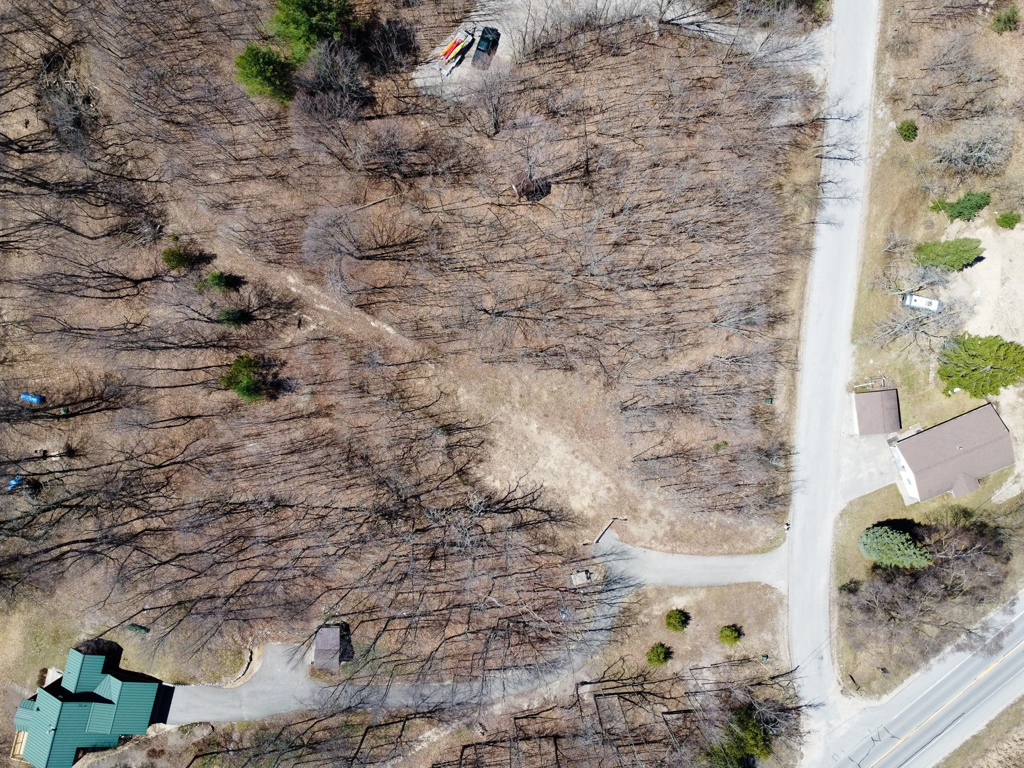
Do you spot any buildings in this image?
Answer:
Yes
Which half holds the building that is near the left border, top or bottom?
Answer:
bottom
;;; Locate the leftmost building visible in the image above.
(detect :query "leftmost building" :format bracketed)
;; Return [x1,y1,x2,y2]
[6,642,164,768]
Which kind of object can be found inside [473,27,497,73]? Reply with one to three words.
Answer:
truck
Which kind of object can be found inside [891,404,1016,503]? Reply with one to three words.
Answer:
house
